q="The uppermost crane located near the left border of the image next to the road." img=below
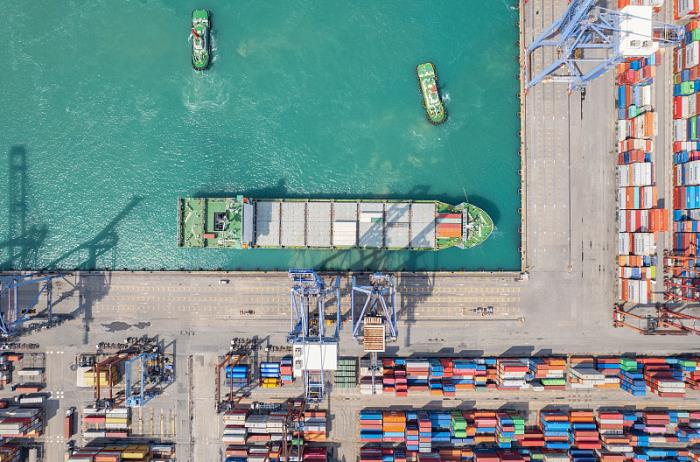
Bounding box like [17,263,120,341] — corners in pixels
[0,275,68,367]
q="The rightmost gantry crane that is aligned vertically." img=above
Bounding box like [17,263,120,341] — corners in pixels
[347,275,396,393]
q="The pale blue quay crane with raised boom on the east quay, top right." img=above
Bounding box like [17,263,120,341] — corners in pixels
[525,0,673,97]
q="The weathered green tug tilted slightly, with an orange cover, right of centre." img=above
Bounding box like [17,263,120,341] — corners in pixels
[417,64,446,126]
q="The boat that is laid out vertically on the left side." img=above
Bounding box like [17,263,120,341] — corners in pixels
[191,10,211,72]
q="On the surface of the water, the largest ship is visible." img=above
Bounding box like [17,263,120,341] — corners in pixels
[177,184,494,249]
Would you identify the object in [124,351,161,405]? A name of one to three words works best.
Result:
crane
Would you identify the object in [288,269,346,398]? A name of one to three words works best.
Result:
container crane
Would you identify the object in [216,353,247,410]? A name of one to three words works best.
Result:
crane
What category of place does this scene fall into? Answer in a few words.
port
